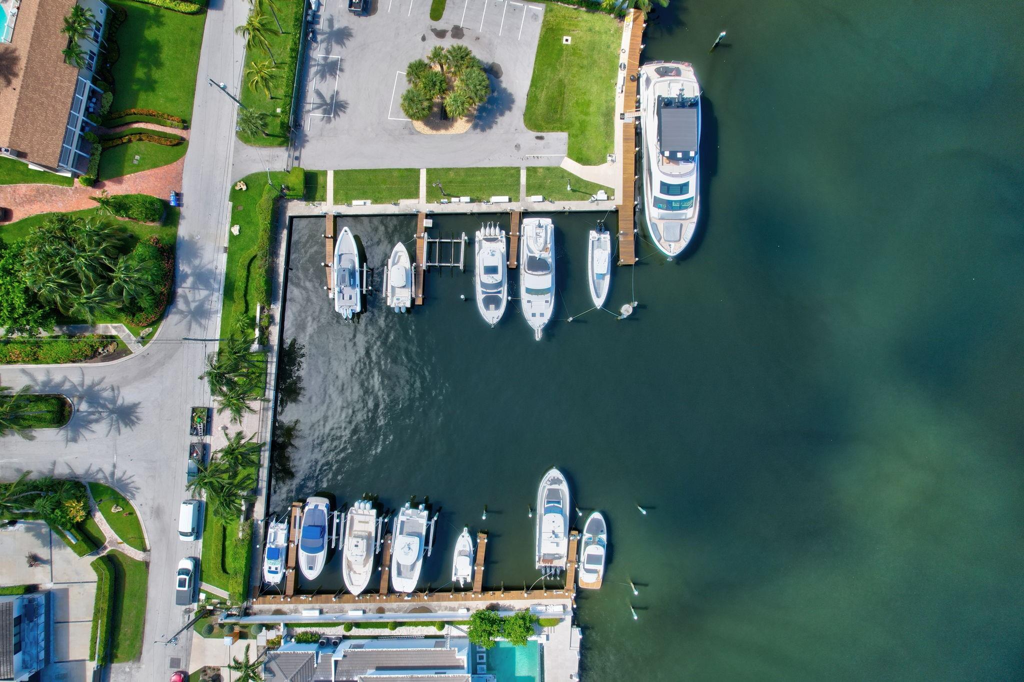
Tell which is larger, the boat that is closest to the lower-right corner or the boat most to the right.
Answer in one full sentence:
The boat most to the right is bigger than the boat that is closest to the lower-right corner.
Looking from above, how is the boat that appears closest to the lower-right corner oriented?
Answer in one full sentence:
What the image shows is the boat that appears closest to the lower-right corner lying from top to bottom.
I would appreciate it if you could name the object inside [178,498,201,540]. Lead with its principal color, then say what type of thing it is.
white vehicle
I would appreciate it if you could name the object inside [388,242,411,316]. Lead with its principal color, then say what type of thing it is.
white boat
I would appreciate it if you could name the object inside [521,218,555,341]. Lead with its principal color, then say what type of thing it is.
white boat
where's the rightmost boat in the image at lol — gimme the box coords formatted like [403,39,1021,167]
[639,59,701,259]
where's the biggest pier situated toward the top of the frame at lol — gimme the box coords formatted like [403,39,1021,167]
[617,11,645,264]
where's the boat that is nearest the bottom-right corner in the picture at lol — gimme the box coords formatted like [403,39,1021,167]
[579,509,607,589]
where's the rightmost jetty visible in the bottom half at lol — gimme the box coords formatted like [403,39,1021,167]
[565,531,578,592]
